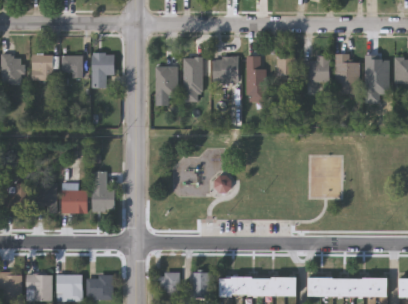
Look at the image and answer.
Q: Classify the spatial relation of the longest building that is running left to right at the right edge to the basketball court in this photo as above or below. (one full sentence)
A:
Within the scene, the longest building that is running left to right at the right edge can be found below the basketball court.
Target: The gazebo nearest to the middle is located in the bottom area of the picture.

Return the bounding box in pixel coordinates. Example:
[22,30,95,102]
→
[215,176,232,194]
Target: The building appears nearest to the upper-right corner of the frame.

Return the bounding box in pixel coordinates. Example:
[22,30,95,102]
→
[396,58,408,84]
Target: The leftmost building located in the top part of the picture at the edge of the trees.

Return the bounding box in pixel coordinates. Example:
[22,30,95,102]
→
[2,54,26,85]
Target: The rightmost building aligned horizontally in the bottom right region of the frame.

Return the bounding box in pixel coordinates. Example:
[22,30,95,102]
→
[308,278,388,298]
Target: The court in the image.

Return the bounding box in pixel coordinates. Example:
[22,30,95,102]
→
[309,156,344,200]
